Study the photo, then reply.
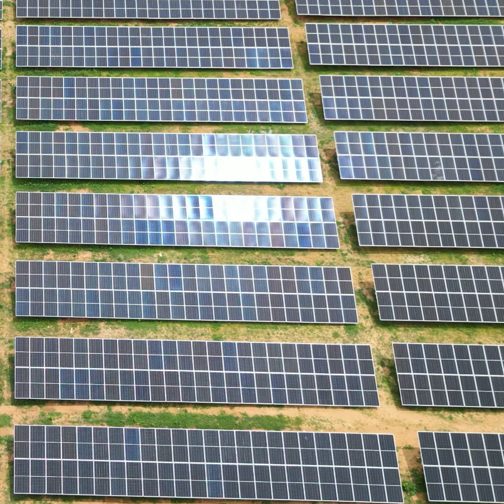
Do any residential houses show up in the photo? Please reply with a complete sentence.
No, no residential house can be seen from above.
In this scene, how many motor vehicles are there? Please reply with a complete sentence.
The count of motor vehicles is 0.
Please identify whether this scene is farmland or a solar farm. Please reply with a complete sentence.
The picture captures a solar farm.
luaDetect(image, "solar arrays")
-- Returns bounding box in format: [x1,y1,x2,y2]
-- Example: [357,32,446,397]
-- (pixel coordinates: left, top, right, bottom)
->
[305,23,504,66]
[15,26,294,69]
[15,192,339,249]
[15,131,323,182]
[13,425,403,503]
[372,264,504,321]
[14,337,380,406]
[15,260,358,323]
[319,75,504,121]
[418,432,504,502]
[296,0,504,16]
[334,131,504,179]
[15,75,308,122]
[393,343,504,406]
[16,0,281,19]
[352,194,504,246]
